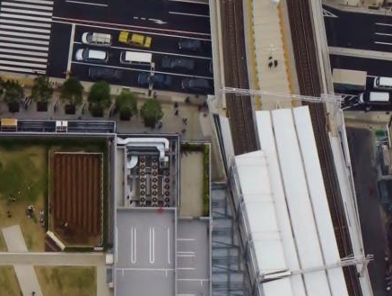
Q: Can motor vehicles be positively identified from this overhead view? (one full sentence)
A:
Yes, a motor vehicle can be made out from above.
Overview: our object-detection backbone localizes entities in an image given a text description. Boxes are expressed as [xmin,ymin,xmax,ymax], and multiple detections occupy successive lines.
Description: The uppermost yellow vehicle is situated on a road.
[119,32,149,47]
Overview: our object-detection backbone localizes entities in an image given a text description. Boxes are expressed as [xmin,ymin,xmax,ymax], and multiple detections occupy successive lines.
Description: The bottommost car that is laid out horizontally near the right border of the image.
[361,89,391,104]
